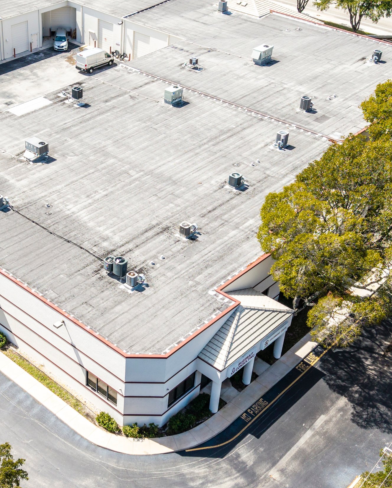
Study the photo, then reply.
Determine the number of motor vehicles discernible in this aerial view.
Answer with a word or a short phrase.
2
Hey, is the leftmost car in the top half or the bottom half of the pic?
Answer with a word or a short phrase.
top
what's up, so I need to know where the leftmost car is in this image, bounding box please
[50,27,71,50]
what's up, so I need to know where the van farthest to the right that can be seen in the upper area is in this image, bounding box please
[72,44,116,73]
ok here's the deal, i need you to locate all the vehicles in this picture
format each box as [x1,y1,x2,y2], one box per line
[50,27,71,50]
[72,44,116,73]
